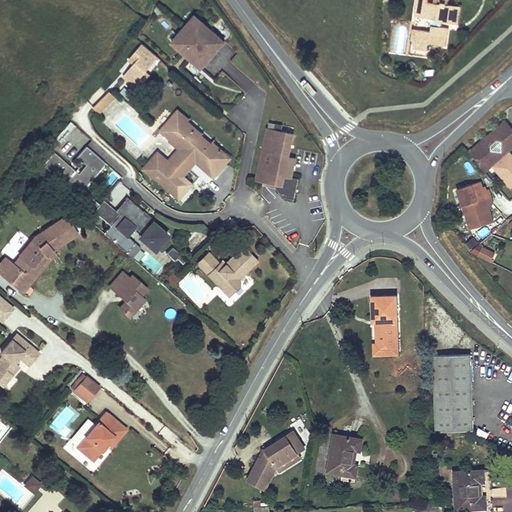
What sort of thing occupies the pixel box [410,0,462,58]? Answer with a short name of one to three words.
house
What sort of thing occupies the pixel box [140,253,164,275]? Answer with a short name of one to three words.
swimming pool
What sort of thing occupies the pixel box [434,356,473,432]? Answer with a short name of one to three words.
building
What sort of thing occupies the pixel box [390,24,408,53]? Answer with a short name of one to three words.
greenhouse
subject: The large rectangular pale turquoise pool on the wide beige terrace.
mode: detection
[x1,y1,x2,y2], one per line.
[114,112,150,146]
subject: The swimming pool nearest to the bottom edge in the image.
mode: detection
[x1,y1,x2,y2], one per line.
[0,470,34,510]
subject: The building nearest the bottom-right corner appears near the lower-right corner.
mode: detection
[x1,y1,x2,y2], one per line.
[452,470,488,512]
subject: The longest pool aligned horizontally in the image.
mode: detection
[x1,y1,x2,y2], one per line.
[180,272,253,308]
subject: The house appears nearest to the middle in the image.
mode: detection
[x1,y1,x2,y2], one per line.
[198,252,261,298]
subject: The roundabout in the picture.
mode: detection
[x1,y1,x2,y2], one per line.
[324,130,436,242]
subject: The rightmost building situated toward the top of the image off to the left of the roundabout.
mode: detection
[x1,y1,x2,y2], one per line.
[256,122,299,201]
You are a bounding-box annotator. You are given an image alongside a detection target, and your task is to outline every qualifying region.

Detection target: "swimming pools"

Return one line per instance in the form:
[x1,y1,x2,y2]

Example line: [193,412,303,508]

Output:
[0,470,34,510]
[106,172,119,186]
[0,419,10,444]
[180,272,253,308]
[164,308,176,320]
[476,226,490,240]
[50,405,80,438]
[464,161,476,176]
[140,253,164,275]
[114,112,150,146]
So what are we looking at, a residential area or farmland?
residential area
